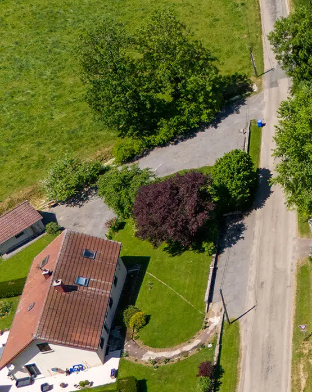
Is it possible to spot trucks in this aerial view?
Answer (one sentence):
No, there's no truck here.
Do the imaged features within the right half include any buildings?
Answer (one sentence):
No, there is no building within the right half.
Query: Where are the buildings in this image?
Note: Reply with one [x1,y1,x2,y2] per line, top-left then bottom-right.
[0,228,125,377]
[0,198,46,256]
